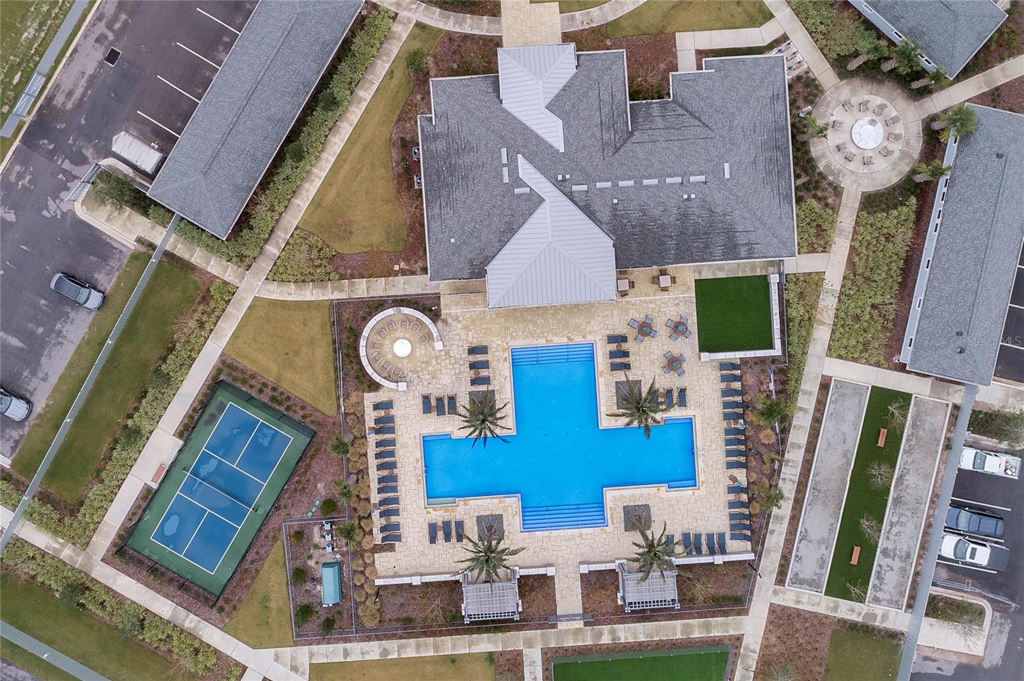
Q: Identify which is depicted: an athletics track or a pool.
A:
pool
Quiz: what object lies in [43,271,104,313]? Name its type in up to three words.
car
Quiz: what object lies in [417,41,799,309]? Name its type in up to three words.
building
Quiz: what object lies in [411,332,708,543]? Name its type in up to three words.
swimming pool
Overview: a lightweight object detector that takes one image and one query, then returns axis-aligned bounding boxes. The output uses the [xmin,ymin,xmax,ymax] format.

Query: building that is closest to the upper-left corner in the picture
[148,0,368,239]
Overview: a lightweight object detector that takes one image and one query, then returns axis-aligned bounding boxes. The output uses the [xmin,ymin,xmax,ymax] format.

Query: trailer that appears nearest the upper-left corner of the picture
[101,132,160,171]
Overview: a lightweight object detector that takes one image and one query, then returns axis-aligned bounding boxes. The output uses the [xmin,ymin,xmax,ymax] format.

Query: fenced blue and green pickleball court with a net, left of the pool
[125,384,309,598]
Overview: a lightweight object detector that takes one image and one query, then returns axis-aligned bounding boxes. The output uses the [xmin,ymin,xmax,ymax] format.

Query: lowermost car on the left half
[0,384,31,421]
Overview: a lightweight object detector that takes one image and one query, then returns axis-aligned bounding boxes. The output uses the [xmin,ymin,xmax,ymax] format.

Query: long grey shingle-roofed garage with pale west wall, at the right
[898,105,1024,388]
